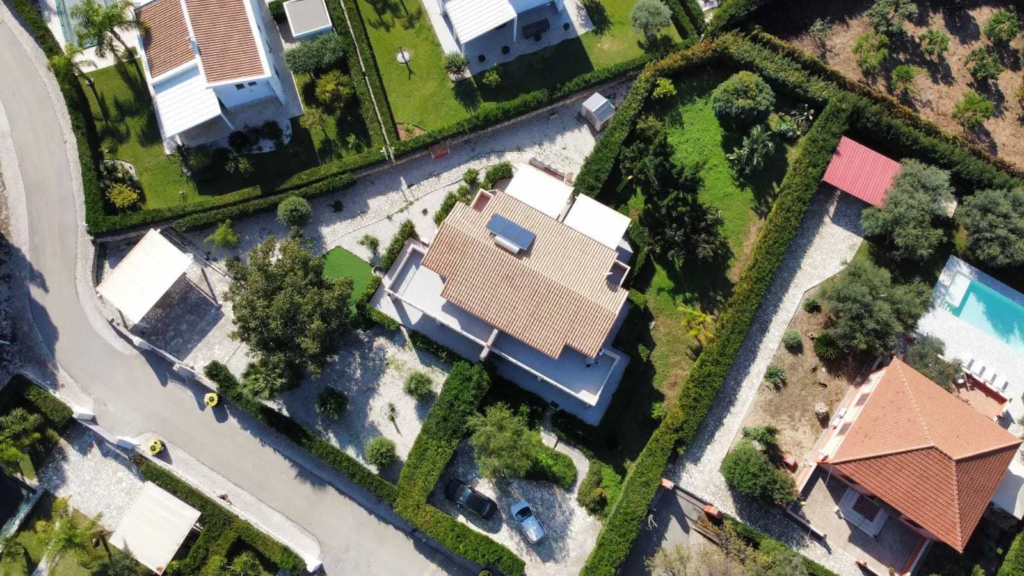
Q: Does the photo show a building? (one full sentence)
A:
Yes, a building can be made out from above.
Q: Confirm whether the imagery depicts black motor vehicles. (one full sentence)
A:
Yes, the image includes a black motor vehicle.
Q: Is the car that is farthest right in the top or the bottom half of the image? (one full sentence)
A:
The bottom half of the photo is where the car that is farthest right is.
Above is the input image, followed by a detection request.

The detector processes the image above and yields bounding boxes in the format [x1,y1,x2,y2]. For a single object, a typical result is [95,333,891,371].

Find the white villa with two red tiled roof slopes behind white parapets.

[128,0,289,119]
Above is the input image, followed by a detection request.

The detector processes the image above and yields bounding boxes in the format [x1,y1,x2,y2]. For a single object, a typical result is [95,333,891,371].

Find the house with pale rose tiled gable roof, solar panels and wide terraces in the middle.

[386,188,632,406]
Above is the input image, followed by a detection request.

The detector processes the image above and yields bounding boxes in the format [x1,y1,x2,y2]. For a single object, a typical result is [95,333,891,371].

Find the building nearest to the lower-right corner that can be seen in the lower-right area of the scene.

[789,356,1024,576]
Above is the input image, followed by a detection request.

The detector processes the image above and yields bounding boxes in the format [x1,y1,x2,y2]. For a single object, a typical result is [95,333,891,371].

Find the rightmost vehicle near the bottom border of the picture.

[508,496,550,548]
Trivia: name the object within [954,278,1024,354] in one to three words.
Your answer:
swimming pool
